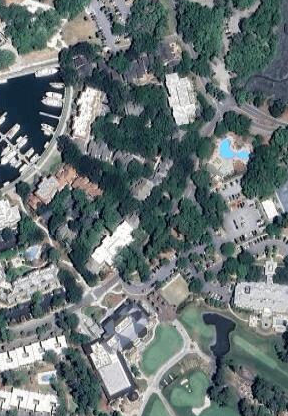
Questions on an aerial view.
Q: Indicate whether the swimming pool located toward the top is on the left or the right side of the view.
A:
right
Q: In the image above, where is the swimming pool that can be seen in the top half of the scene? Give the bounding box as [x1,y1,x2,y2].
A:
[219,138,251,160]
